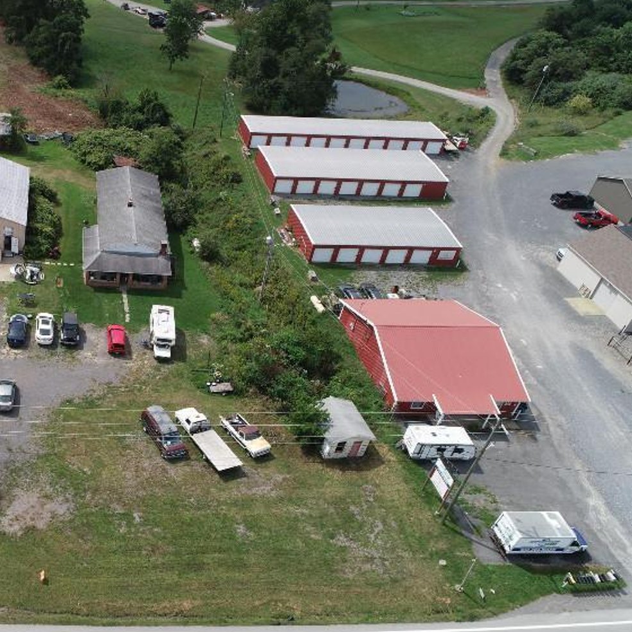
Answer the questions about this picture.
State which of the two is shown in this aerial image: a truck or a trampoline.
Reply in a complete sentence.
The one in the frame is a truck.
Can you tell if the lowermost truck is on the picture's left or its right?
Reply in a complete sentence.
The lowermost truck appears in the right half of the scene.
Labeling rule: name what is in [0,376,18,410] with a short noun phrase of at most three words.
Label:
car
